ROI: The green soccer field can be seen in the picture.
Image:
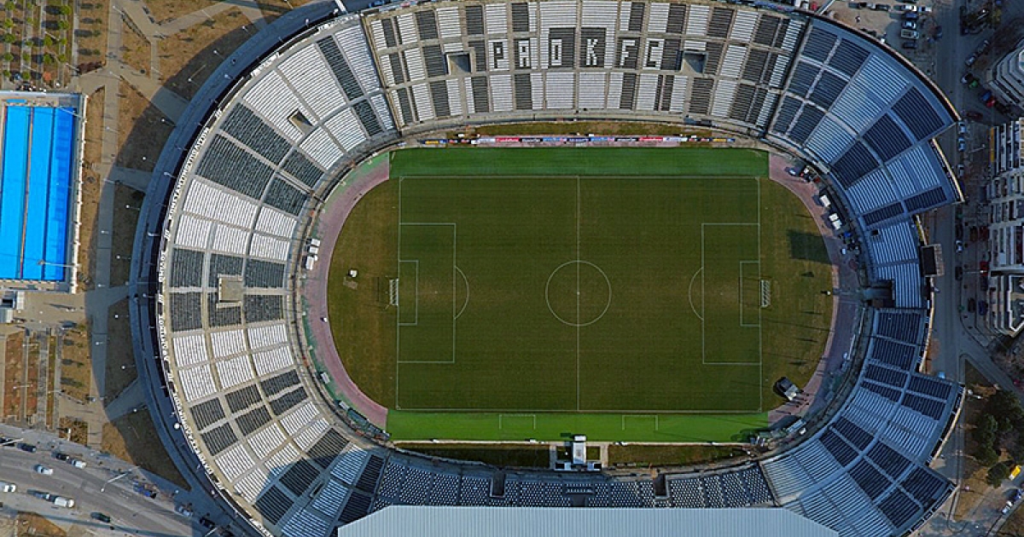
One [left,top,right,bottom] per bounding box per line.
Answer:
[328,149,833,442]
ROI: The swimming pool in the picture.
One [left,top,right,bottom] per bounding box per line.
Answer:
[0,90,91,293]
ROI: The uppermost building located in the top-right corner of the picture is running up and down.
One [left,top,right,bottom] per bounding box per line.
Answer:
[989,31,1024,112]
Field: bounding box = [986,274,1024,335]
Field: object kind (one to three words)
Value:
building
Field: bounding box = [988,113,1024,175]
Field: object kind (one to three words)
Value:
building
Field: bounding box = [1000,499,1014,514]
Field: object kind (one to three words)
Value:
car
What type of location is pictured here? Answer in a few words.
sports ground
